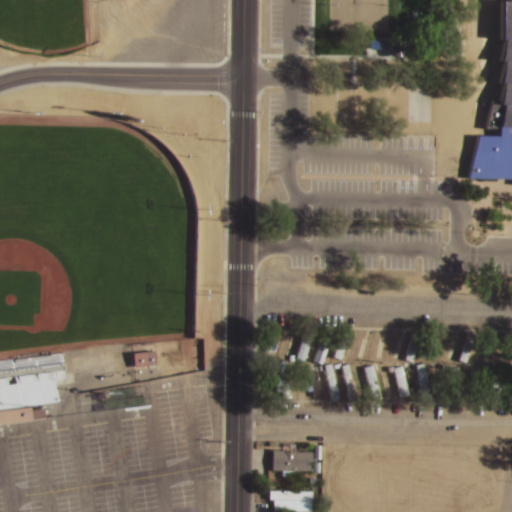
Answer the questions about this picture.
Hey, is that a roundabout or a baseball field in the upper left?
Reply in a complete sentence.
The feature located in the upper left is a baseball field.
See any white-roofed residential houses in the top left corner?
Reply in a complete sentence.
No, no white-roofed residential house appears in the top left corner.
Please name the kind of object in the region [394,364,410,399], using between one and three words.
house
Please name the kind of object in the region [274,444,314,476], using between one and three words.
house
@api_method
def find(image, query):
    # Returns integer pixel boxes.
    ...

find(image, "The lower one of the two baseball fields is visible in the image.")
[0,116,197,360]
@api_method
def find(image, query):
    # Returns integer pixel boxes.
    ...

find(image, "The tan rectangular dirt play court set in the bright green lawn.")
[331,0,388,33]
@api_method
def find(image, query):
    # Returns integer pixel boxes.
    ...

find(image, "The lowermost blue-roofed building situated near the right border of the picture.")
[470,126,512,180]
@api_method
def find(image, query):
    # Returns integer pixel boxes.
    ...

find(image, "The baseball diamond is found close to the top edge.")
[0,0,88,56]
